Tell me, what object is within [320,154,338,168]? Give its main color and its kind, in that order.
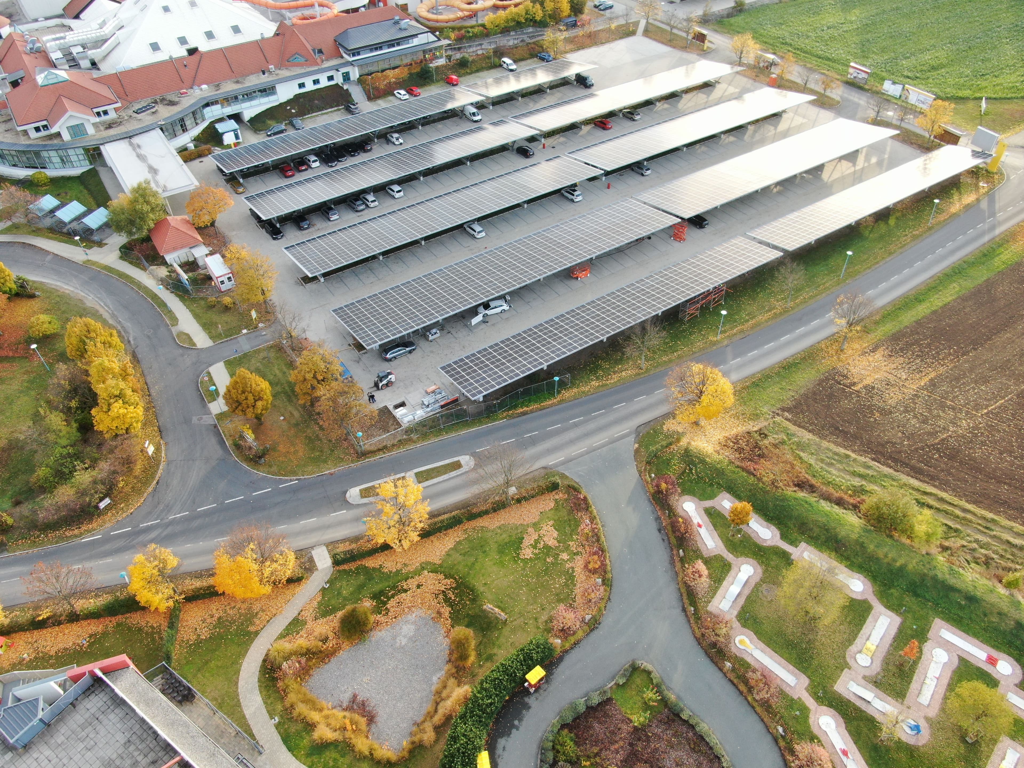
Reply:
black car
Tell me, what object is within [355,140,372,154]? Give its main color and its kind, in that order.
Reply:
black car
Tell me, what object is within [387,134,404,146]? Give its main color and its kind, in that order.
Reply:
gray vehicle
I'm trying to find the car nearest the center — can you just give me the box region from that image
[475,294,510,320]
